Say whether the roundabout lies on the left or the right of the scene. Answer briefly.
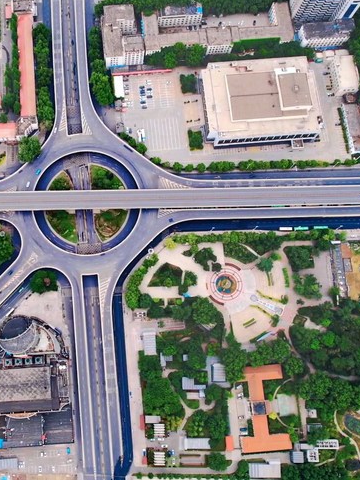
left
